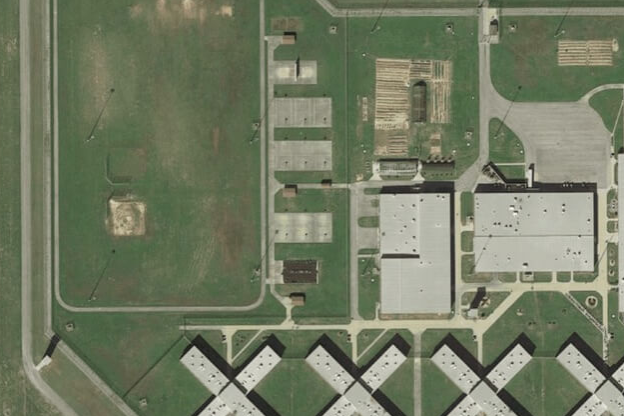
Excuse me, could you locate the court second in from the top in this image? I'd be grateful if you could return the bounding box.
[273,97,332,127]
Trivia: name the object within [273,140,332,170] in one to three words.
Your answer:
sports court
